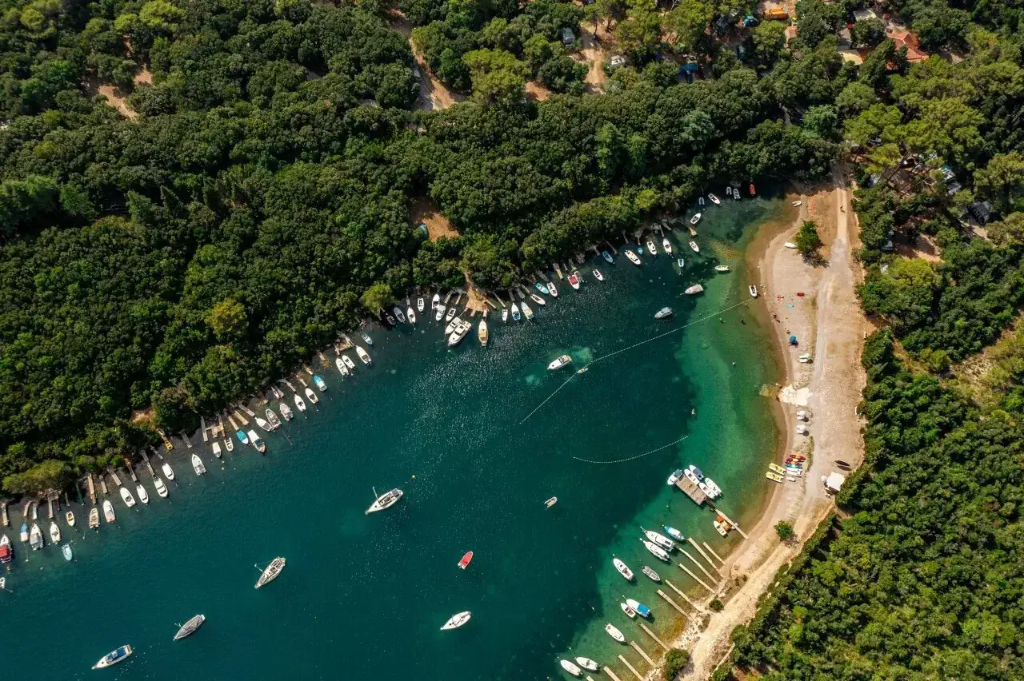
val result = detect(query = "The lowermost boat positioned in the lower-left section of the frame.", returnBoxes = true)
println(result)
[89,643,135,669]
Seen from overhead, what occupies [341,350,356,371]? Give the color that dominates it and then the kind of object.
white boat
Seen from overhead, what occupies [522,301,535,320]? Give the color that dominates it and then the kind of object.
white boat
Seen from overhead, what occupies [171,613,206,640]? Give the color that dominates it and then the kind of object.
gray boat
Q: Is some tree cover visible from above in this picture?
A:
Yes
